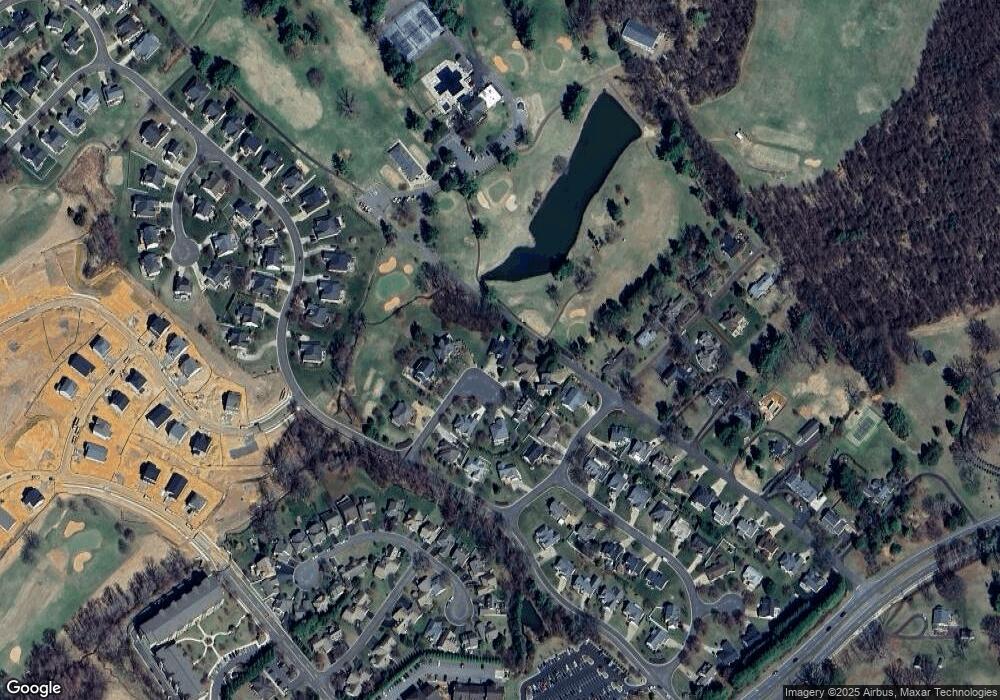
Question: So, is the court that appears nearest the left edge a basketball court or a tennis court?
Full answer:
I'd say the court that appears nearest the left edge is a tennis court.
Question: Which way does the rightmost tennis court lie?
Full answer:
The rightmost tennis court has been laid out at an angle relative to the frame.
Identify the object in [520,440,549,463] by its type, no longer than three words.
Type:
house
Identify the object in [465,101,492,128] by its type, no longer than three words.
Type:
building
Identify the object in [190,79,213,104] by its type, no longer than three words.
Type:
house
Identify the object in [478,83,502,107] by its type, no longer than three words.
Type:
building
